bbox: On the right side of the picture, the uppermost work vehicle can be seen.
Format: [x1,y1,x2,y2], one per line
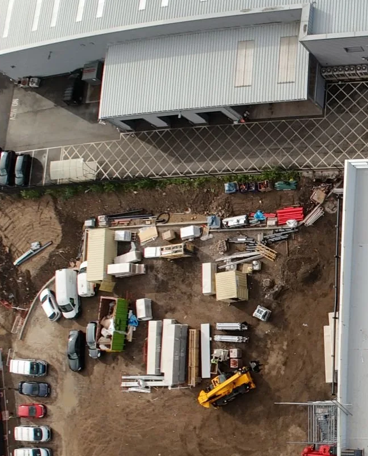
[195,359,269,407]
